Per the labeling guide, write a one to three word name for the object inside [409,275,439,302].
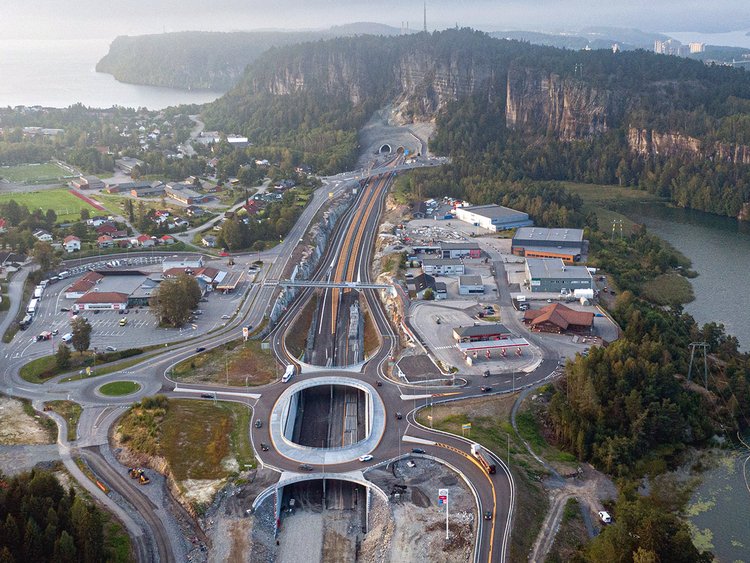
house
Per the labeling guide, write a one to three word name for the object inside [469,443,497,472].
truck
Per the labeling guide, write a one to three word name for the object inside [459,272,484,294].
building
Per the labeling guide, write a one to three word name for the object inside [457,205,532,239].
building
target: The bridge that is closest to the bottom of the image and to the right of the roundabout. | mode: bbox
[246,325,404,531]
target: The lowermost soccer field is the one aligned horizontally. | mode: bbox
[0,190,103,224]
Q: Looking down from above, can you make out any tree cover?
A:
Yes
